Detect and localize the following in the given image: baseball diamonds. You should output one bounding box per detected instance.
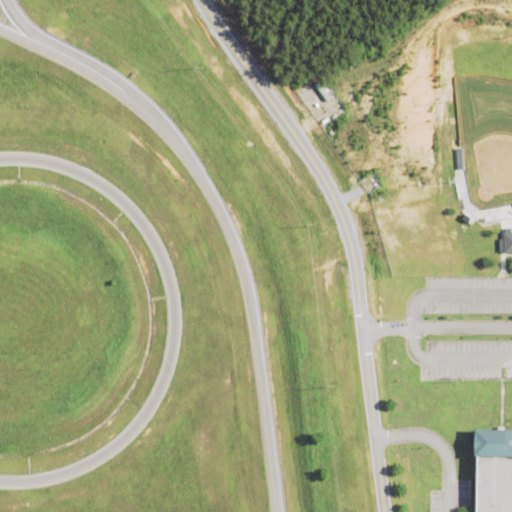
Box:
[456,76,512,210]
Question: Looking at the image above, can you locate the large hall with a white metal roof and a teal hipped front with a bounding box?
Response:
[474,430,512,512]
